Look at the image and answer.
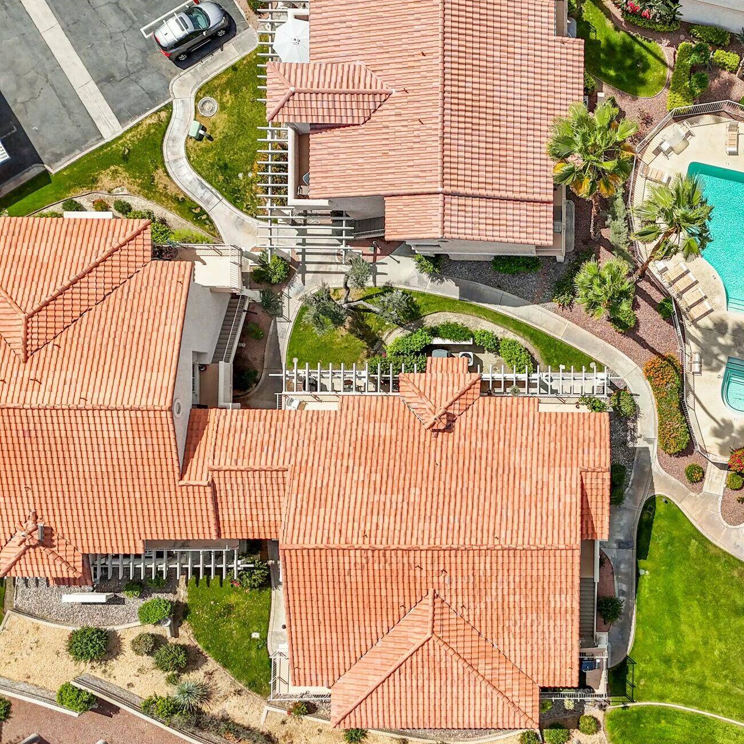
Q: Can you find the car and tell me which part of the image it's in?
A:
top left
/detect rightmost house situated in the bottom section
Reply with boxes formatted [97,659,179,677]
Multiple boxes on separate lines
[207,358,612,733]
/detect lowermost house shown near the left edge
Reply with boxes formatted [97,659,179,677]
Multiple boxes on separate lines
[0,215,268,586]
